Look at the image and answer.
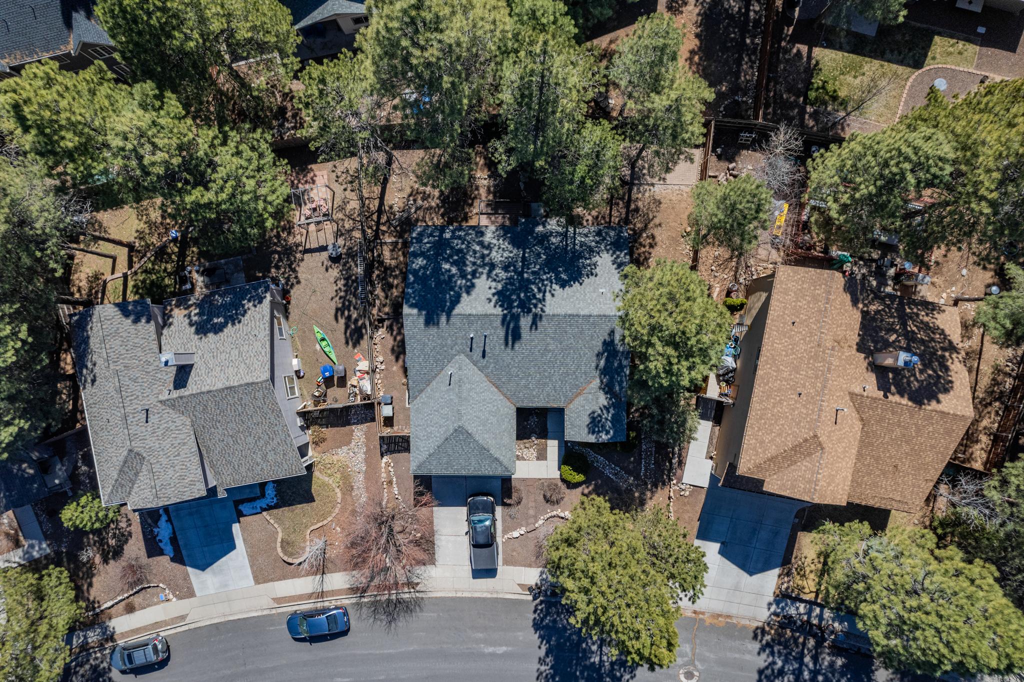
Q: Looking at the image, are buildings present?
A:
Yes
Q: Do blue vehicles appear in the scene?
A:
Yes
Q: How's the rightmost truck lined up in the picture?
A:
up and down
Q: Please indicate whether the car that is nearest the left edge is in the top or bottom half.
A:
bottom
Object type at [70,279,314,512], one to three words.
house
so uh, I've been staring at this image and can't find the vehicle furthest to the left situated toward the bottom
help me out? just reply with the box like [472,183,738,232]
[108,637,170,677]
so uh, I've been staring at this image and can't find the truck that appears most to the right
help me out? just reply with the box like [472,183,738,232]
[466,493,500,577]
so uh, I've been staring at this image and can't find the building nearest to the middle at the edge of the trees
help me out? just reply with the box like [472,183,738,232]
[402,218,634,475]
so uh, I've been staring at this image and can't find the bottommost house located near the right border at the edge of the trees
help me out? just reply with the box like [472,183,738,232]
[718,265,974,514]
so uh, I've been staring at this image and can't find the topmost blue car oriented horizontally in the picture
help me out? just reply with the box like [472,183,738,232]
[286,609,352,645]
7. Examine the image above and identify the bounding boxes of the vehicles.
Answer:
[108,637,170,677]
[286,609,352,645]
[466,493,500,577]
